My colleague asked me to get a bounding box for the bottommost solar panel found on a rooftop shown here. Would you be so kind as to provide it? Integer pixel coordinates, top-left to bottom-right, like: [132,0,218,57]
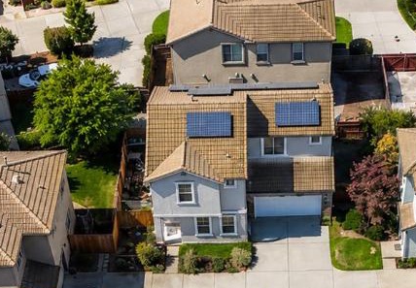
[185,109,232,136]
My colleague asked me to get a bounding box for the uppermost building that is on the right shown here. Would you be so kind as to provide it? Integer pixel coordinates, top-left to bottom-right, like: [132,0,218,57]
[164,0,337,85]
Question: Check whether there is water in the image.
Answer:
No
